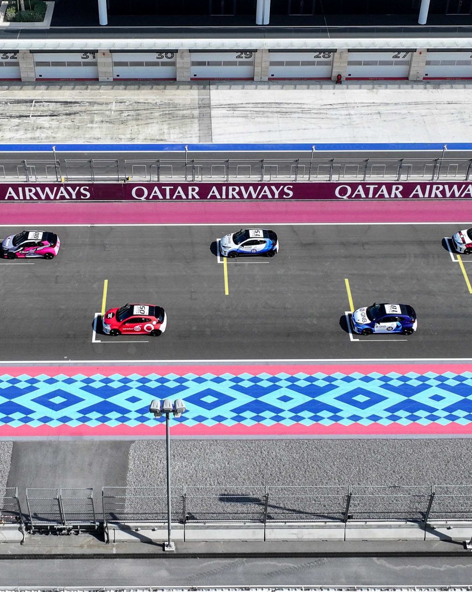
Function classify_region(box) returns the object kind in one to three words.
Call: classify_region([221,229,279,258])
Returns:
car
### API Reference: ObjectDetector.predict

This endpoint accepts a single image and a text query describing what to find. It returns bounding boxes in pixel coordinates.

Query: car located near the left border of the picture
[0,230,59,260]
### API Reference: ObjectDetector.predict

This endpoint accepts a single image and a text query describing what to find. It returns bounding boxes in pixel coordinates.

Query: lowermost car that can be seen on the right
[351,302,419,336]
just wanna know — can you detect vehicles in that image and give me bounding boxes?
[101,303,166,337]
[221,229,279,258]
[453,229,472,255]
[0,230,59,260]
[351,302,419,336]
